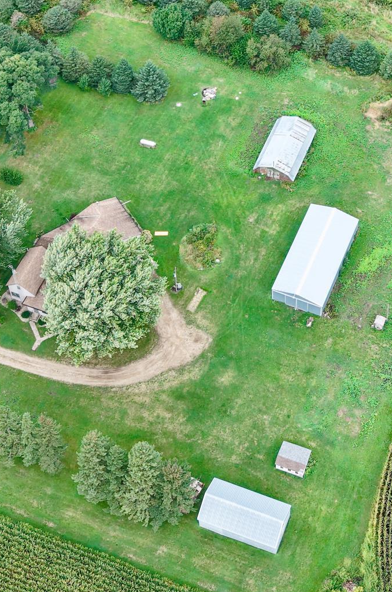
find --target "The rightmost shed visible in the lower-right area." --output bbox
[275,440,312,478]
